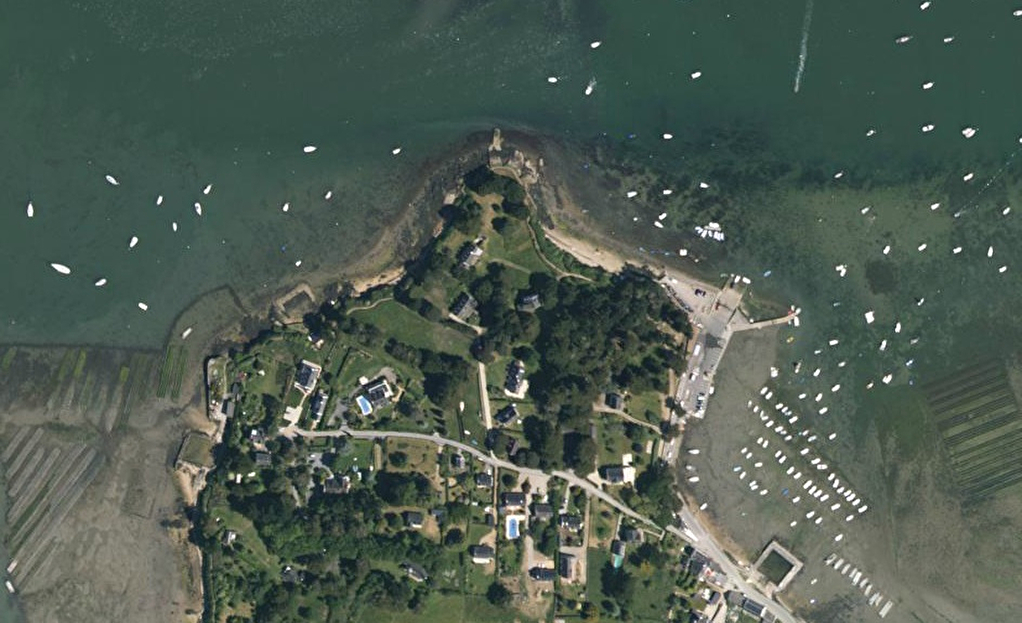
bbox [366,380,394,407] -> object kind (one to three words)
house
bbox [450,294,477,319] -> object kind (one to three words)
house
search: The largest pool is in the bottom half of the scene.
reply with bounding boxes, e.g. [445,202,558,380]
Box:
[506,515,525,539]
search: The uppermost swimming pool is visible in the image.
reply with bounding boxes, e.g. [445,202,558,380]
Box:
[356,395,372,415]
